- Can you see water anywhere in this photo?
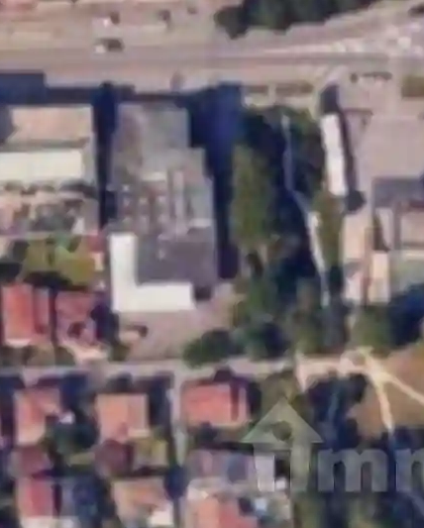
No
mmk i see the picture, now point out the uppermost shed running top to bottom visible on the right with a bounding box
[323,85,349,201]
